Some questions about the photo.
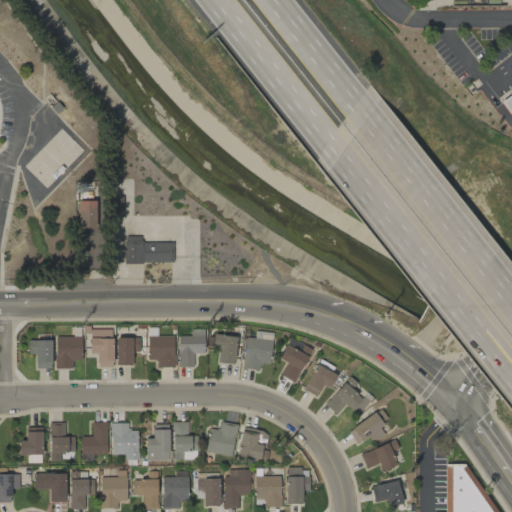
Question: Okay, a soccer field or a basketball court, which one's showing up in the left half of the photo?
basketball court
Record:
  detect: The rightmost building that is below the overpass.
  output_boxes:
[448,464,498,512]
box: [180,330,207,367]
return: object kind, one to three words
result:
house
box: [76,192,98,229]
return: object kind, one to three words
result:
building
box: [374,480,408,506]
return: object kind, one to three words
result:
house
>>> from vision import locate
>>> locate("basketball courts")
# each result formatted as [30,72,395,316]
[26,129,84,188]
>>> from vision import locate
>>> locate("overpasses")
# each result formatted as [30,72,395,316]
[324,86,512,408]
